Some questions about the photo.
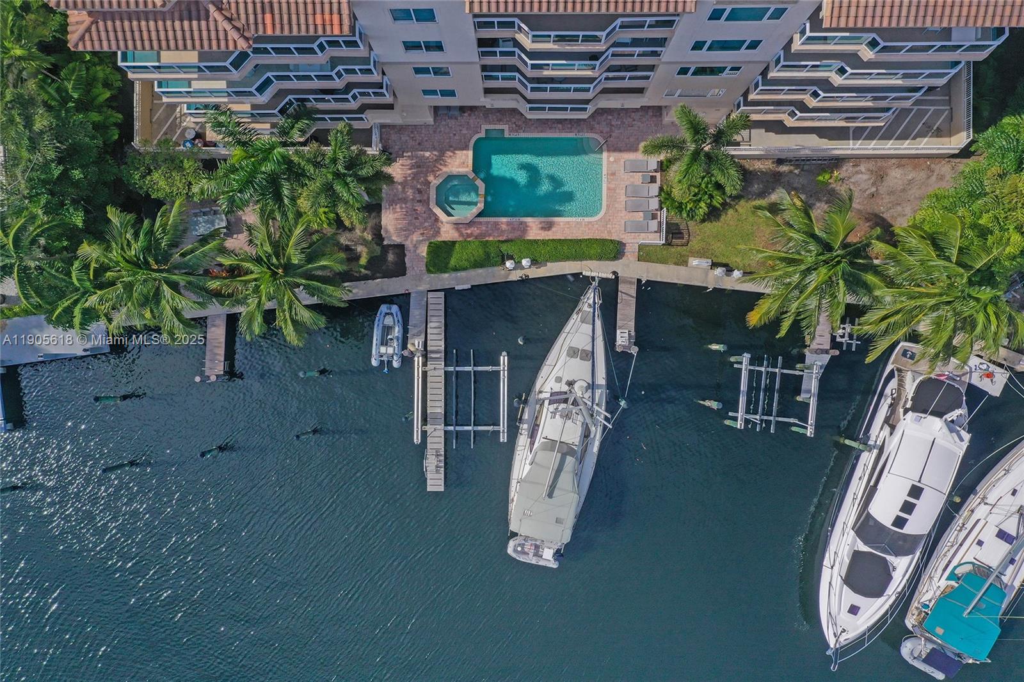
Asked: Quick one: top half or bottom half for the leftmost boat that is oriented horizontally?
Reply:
bottom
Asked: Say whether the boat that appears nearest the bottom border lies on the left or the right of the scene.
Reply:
right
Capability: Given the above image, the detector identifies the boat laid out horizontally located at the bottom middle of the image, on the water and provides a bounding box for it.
[507,536,563,567]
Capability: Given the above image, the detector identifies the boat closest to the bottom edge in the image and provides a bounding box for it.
[898,634,963,680]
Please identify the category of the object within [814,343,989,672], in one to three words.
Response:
boat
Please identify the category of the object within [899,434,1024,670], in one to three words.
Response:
boat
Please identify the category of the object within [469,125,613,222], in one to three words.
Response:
swimming pool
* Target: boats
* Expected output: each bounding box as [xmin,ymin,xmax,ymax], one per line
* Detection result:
[507,536,563,567]
[898,634,963,680]
[372,303,403,372]
[508,273,613,555]
[814,343,989,672]
[899,434,1024,670]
